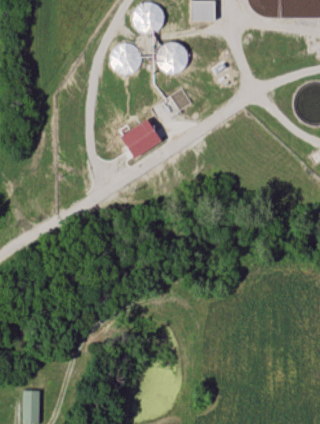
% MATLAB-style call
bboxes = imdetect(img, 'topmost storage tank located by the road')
[132,0,166,34]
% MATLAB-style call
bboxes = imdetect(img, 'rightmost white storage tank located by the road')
[157,42,190,75]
